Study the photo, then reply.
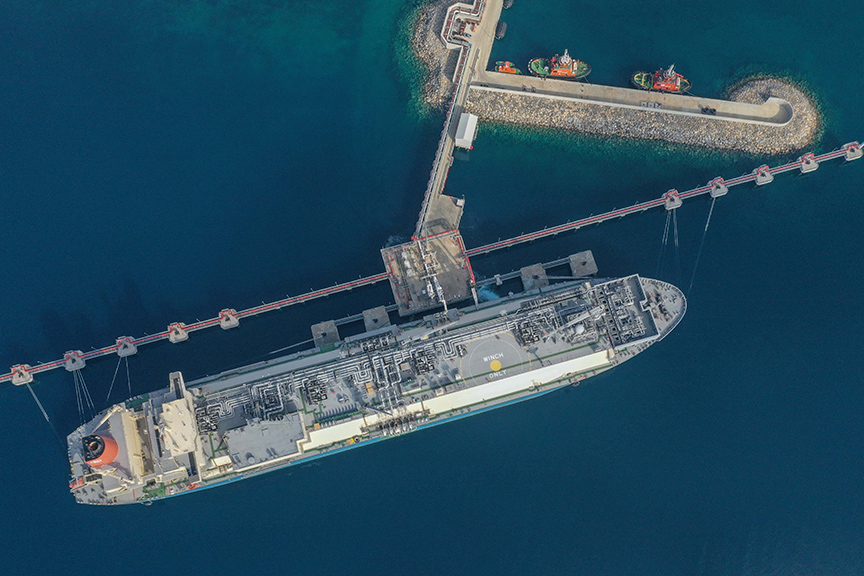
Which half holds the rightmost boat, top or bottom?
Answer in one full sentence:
The top half of the photo is where the rightmost boat is.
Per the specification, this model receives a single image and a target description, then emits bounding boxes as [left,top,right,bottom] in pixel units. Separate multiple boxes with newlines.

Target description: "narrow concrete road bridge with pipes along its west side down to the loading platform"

[410,83,471,242]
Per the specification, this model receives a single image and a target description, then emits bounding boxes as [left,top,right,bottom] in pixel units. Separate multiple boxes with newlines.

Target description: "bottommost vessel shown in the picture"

[68,275,688,503]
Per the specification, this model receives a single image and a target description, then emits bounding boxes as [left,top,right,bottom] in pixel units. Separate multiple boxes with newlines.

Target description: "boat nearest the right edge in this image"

[629,67,694,94]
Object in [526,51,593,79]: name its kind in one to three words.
boat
